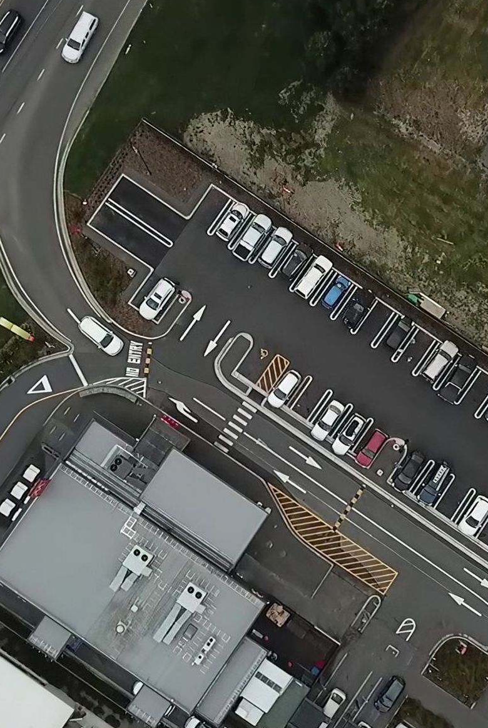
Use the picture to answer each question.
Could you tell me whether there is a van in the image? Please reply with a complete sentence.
Yes, there's a van down there.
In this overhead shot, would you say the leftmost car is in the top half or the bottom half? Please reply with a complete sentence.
The top half of the photo is where the leftmost car is.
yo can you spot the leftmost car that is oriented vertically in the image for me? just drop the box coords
[0,7,25,59]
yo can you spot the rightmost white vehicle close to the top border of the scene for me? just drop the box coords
[63,8,100,64]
